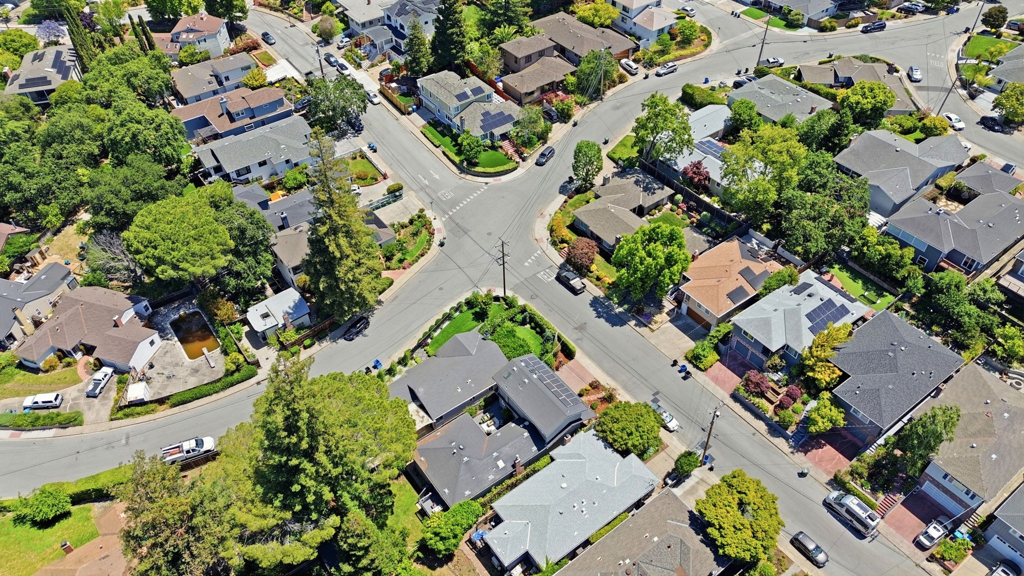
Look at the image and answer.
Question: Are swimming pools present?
Yes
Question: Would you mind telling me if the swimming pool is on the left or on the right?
left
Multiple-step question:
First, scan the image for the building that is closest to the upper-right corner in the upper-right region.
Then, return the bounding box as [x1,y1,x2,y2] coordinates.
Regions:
[985,47,1024,94]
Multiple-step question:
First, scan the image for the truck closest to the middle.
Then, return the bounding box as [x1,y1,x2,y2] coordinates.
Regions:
[553,269,590,299]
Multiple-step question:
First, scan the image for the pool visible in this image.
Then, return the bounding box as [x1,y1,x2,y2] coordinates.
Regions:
[166,308,229,362]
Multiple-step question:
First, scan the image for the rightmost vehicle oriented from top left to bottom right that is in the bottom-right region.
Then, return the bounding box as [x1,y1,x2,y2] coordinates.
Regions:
[822,493,883,541]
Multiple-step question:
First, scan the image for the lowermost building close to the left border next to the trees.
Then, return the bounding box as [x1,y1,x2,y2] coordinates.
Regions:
[35,505,145,576]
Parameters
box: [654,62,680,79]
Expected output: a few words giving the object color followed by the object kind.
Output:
gray car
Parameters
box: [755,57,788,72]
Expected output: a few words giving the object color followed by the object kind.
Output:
gray vehicle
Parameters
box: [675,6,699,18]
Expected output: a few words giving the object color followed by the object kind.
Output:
gray vehicle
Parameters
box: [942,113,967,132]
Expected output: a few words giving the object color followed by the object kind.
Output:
white car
